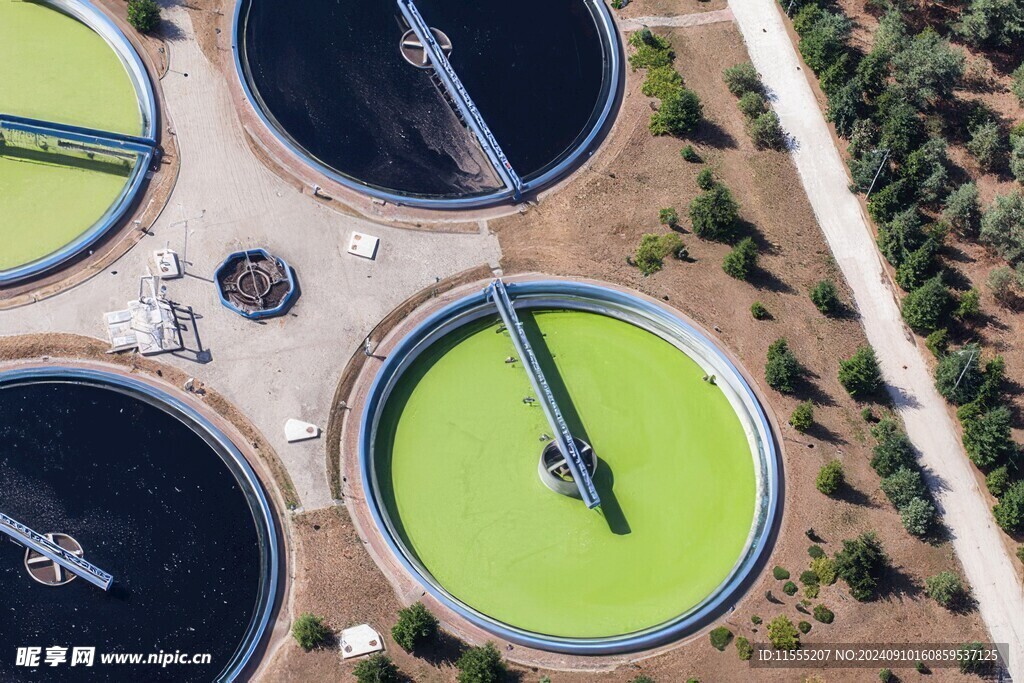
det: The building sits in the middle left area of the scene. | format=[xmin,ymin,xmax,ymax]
[104,275,187,357]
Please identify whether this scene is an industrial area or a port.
industrial area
